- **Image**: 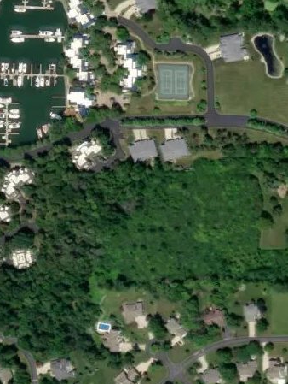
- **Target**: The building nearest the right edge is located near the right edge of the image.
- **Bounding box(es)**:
[266,361,286,384]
